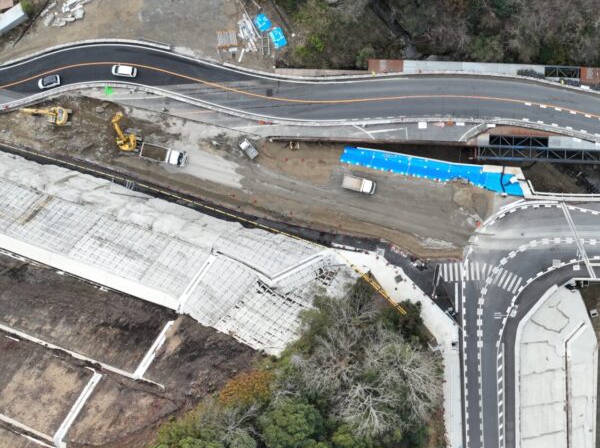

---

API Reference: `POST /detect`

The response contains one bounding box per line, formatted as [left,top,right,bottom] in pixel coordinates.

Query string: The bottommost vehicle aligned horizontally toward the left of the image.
[131,140,187,168]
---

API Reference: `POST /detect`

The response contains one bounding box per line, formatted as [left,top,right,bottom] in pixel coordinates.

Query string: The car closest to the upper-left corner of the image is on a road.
[35,74,59,88]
